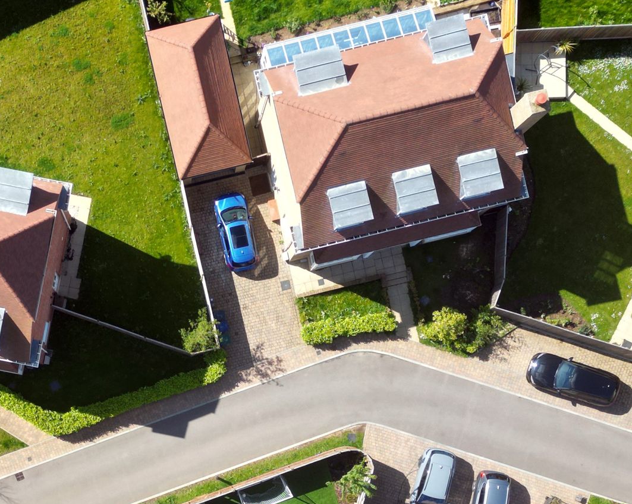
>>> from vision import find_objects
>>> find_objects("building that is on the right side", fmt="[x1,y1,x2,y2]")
[251,2,551,269]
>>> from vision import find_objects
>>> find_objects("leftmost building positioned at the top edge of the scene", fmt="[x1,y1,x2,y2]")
[145,13,254,185]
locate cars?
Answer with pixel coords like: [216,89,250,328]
[523,355,619,404]
[409,447,453,504]
[472,469,510,504]
[213,193,254,275]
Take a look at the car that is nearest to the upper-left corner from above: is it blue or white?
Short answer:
blue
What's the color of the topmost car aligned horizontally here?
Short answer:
black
